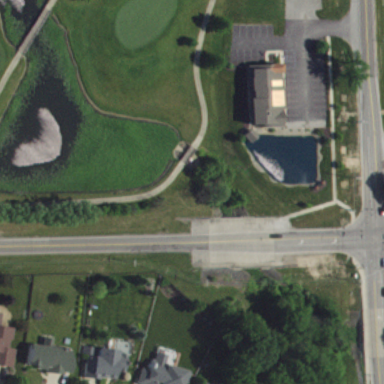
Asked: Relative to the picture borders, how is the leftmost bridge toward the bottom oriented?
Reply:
horizontally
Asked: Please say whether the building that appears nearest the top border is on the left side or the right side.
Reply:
right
